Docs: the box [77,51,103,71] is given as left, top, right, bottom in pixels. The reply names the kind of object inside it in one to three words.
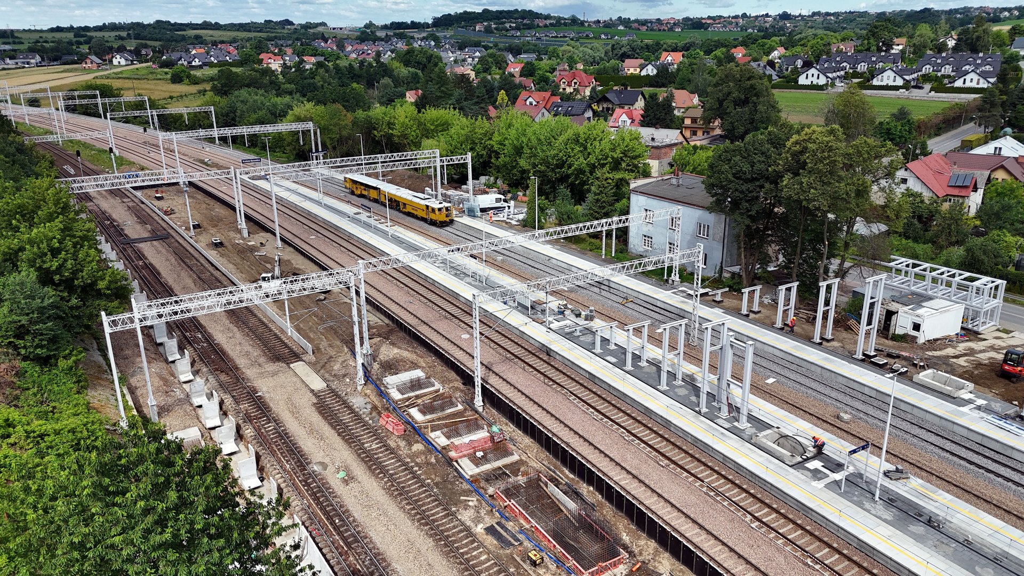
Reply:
house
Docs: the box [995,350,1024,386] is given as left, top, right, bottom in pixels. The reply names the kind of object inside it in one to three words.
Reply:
work vehicle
